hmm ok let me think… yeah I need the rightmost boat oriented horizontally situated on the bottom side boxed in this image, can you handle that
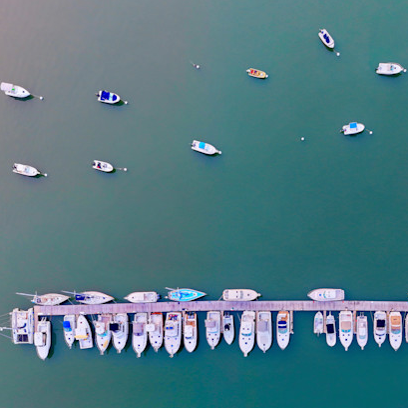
[306,288,345,301]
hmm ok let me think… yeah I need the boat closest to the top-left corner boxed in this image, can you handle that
[0,81,35,98]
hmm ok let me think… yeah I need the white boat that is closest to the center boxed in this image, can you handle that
[190,141,218,155]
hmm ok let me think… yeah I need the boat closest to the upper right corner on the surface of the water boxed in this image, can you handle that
[377,63,404,76]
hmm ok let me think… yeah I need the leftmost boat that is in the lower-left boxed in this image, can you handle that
[0,308,34,344]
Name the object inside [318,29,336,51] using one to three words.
boat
